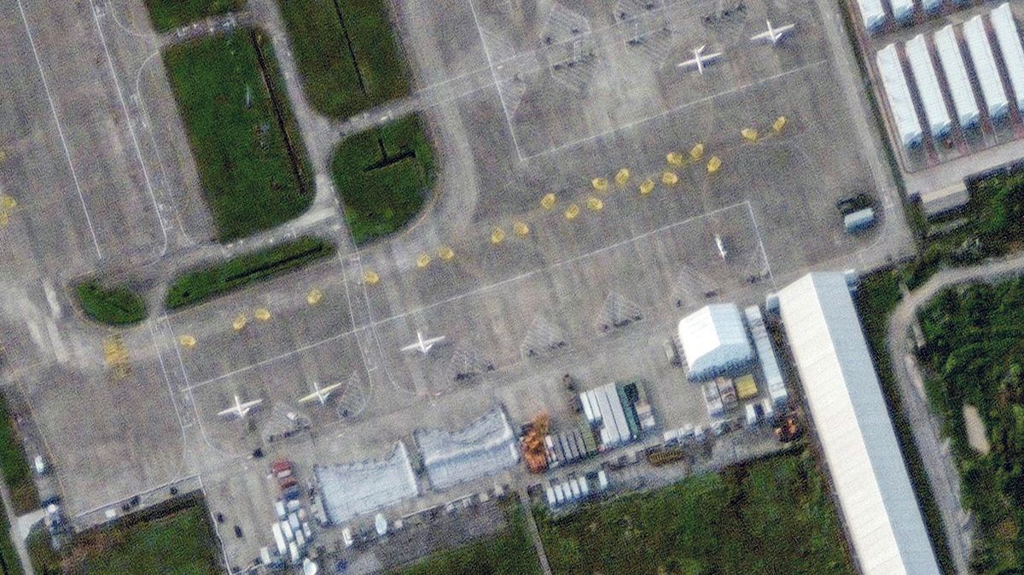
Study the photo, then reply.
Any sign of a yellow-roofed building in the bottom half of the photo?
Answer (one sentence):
Yes, I can see a yellow-roofed building in the bottom half of the photo.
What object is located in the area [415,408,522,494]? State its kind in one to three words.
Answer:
hangar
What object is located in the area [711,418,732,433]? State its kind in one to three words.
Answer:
vehicle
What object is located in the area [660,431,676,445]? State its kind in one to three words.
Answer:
vehicle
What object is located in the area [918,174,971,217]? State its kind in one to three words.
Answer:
building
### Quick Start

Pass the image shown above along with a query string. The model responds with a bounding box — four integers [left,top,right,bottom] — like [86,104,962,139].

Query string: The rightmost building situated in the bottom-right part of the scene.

[777,273,940,575]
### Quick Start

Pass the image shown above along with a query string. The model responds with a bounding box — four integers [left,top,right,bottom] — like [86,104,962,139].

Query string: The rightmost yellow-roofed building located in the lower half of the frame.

[734,374,759,402]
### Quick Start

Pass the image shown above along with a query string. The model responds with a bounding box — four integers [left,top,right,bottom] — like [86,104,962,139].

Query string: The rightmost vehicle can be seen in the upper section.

[839,193,875,218]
